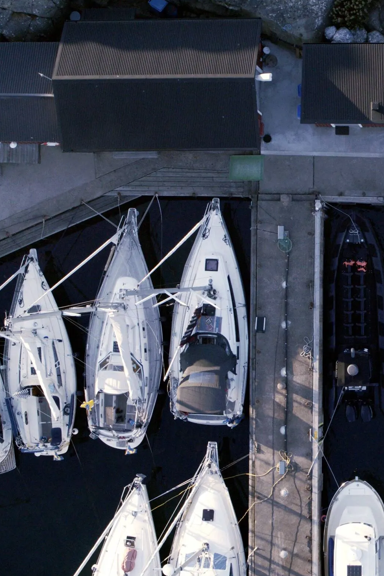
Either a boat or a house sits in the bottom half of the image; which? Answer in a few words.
boat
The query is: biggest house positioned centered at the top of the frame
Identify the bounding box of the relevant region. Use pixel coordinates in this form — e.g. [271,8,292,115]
[52,16,278,154]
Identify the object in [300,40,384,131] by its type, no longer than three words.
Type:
shed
